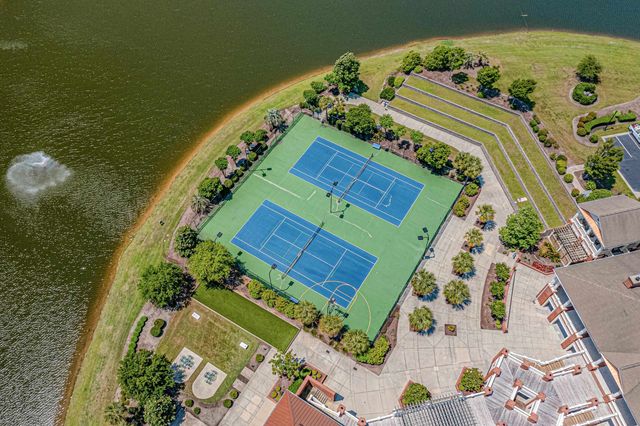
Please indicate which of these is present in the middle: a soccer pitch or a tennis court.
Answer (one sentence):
The feature located in the middle is a tennis court.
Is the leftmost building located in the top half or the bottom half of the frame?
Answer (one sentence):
Seen from above, the leftmost building lies in the bottom half of the view.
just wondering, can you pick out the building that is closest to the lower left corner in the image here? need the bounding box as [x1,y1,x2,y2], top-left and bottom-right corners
[264,390,343,426]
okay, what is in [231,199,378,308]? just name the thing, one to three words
tennis court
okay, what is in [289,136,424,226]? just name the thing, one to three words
tennis court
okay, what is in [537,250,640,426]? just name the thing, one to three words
building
